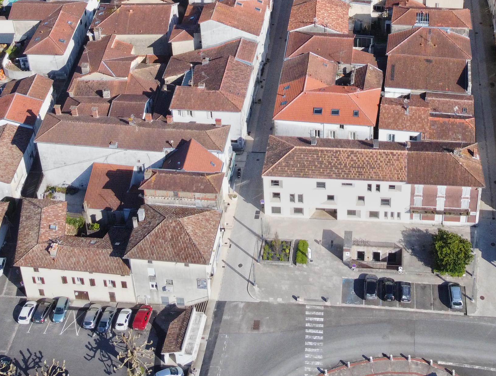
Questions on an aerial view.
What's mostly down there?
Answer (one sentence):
The largest share of the image is taken up by buildings.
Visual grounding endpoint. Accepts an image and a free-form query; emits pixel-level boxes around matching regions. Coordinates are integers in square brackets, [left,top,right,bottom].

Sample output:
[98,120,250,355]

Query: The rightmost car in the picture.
[448,282,463,308]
